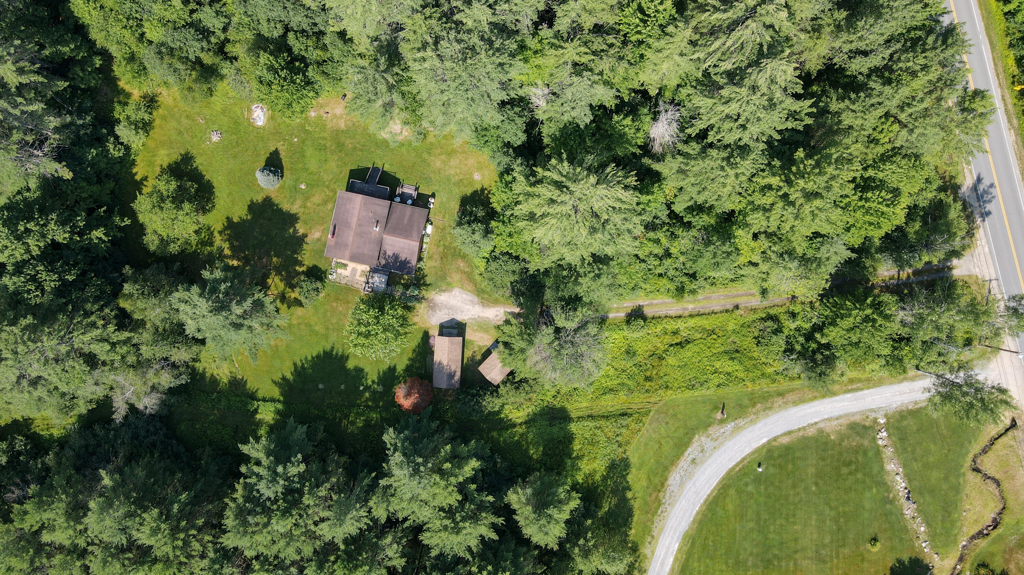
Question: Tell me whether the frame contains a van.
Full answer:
No, there is no van in the image.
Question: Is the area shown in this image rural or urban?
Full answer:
The area is rural.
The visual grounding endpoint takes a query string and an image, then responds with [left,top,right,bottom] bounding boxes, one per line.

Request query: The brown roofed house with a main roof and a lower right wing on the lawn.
[325,166,429,293]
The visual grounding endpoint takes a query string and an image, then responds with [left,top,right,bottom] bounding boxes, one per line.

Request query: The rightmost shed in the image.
[478,347,512,386]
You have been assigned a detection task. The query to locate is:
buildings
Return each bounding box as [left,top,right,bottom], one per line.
[325,166,429,293]
[432,324,463,389]
[478,347,512,386]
